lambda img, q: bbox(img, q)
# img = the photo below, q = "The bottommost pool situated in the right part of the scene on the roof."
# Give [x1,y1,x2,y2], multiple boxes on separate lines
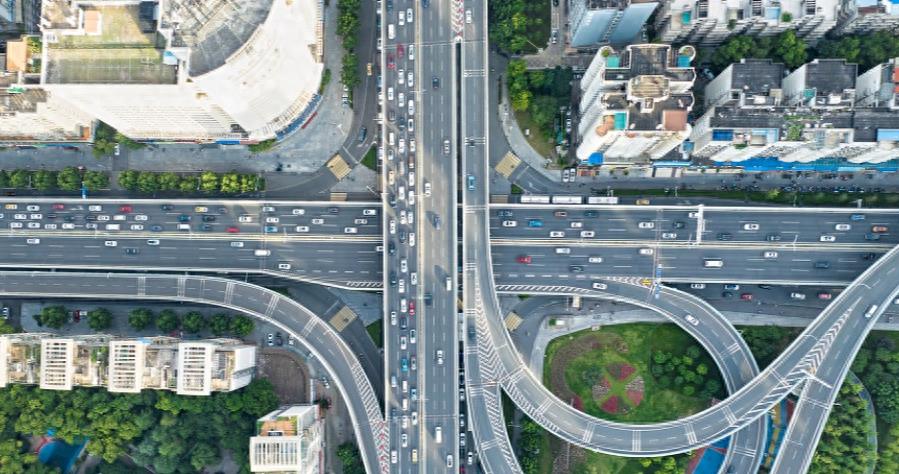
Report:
[614,112,626,130]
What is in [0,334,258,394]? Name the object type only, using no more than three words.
building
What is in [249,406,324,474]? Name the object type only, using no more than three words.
building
